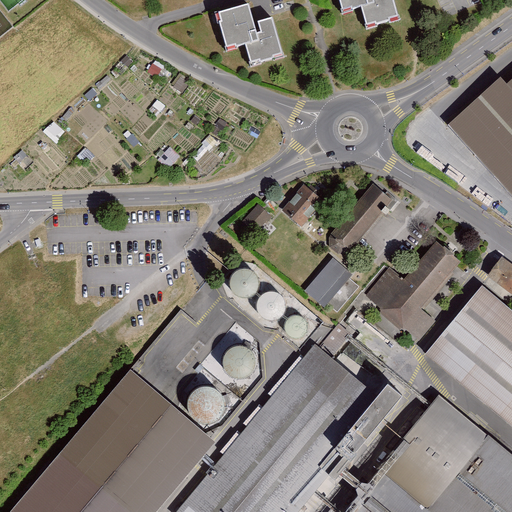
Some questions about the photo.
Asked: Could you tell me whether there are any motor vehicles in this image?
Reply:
Yes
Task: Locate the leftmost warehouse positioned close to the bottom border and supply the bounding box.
[10,368,213,512]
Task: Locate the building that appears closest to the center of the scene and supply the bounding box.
[244,204,272,226]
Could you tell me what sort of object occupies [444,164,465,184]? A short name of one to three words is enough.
vehicle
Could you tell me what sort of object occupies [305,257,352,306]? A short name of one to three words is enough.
house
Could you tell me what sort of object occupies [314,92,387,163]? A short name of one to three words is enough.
roundabout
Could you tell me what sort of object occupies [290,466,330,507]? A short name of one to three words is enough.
shed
